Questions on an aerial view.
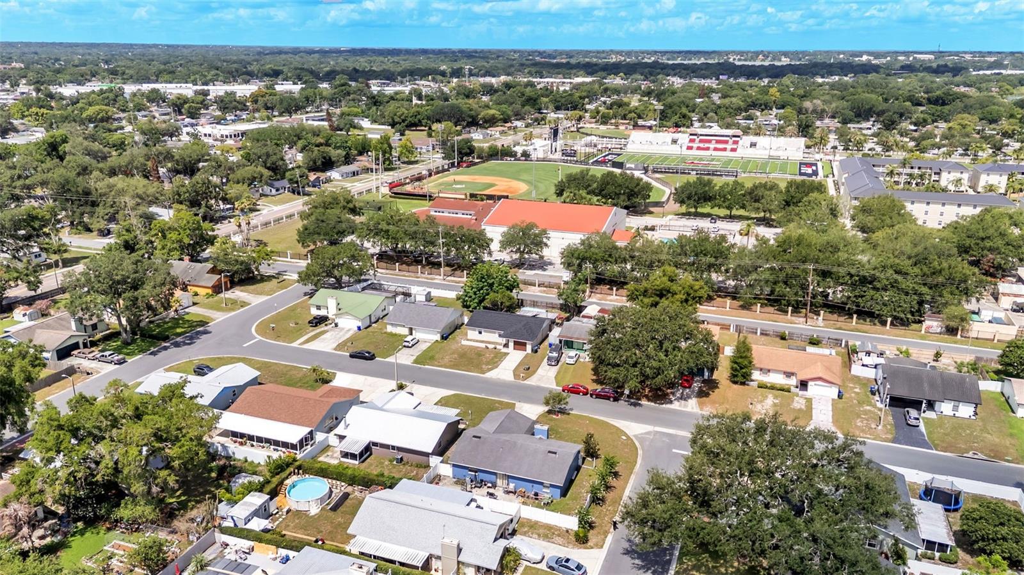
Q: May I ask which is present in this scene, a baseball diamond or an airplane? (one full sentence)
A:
The one in the frame is a baseball diamond.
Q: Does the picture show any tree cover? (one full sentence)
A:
Yes, tree cover can be seen from above here.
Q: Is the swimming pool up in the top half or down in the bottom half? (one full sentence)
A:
The bottom half of the photo is where the swimming pool is.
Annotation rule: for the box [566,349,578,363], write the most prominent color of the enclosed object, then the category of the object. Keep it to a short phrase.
white vehicle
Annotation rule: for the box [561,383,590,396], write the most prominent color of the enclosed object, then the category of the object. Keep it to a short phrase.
red vehicle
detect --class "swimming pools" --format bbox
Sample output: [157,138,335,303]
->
[285,476,332,511]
